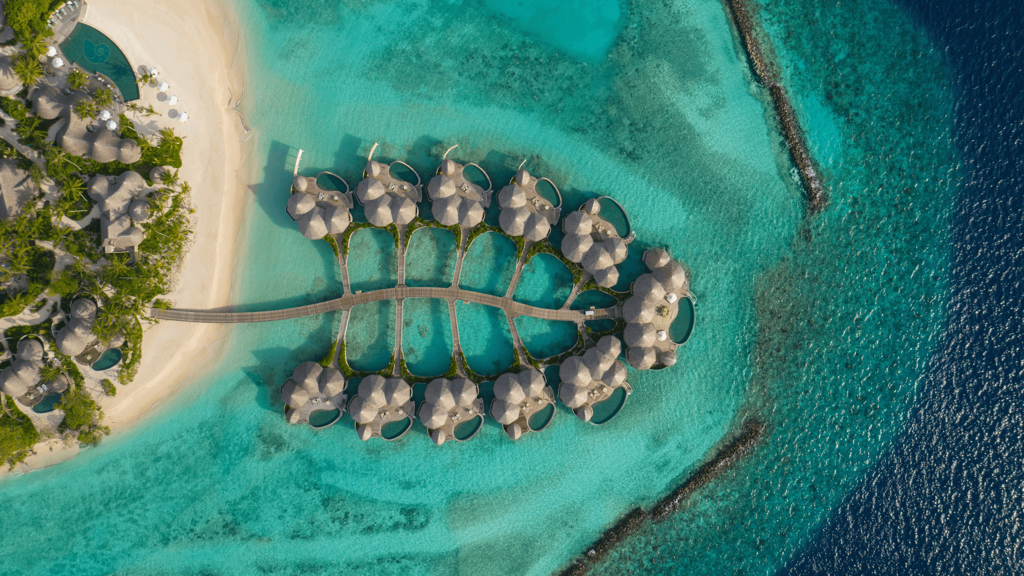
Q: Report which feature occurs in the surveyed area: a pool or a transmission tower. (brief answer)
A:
pool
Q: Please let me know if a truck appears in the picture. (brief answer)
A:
No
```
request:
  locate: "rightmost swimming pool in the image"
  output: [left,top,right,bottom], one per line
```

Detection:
[669,297,693,344]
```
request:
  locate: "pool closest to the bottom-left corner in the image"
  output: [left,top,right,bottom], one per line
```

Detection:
[35,393,62,412]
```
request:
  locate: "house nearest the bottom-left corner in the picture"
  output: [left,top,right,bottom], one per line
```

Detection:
[0,334,77,418]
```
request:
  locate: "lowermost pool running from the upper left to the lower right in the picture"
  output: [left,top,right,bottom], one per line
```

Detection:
[597,198,629,238]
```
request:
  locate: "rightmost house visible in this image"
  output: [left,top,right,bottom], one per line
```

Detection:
[615,247,697,372]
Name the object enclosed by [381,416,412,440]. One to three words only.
swimming pool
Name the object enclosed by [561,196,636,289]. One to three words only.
house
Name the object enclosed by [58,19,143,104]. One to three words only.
swimming pool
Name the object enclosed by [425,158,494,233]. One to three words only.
house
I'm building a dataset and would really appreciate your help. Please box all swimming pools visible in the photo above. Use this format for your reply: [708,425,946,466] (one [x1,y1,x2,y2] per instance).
[316,174,348,195]
[58,19,143,104]
[381,416,412,440]
[597,198,629,238]
[94,349,120,369]
[463,165,491,192]
[310,408,342,428]
[590,386,625,425]
[454,414,483,441]
[389,163,419,186]
[535,180,560,209]
[528,403,554,431]
[35,393,62,412]
[669,297,693,344]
